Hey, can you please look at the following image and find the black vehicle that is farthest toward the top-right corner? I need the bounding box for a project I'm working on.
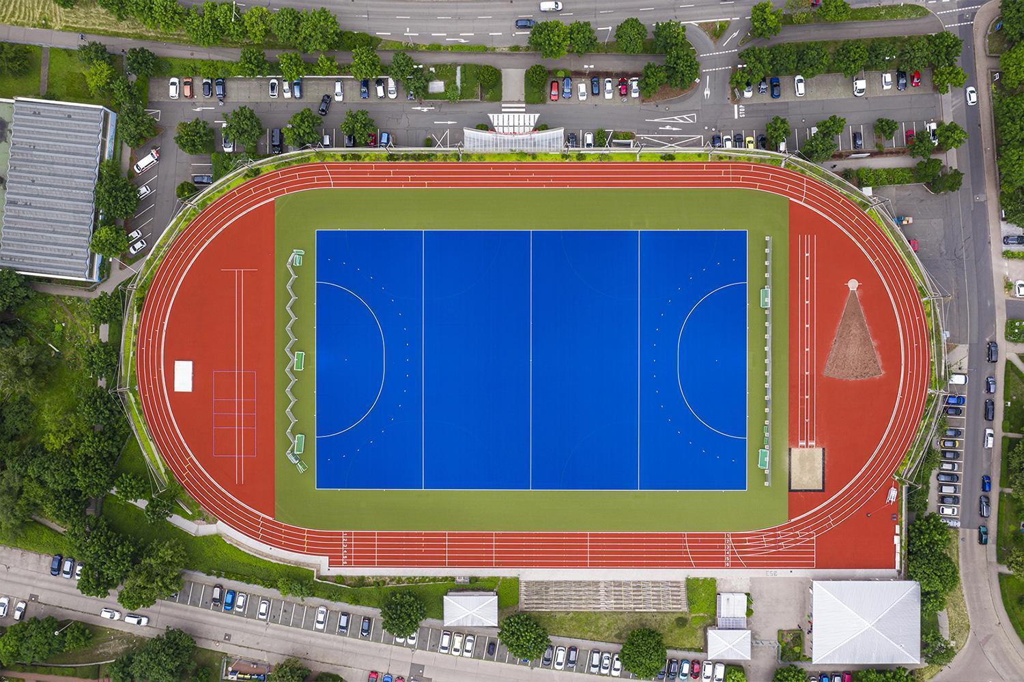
[896,69,908,92]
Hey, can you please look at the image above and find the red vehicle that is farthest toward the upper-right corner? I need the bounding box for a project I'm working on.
[910,69,922,90]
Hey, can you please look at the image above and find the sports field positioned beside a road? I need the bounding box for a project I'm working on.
[275,188,789,531]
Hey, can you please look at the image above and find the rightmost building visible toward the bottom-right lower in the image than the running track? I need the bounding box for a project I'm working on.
[809,578,921,665]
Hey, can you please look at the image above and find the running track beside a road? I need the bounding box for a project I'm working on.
[137,162,927,569]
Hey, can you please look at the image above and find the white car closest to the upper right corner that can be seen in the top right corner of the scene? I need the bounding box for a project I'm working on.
[965,86,978,106]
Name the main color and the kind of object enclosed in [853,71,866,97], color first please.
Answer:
white vehicle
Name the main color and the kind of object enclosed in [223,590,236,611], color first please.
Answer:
blue vehicle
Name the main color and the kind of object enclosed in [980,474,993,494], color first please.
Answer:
blue vehicle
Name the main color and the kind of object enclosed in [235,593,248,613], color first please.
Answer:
white vehicle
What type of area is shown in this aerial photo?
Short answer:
sports ground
